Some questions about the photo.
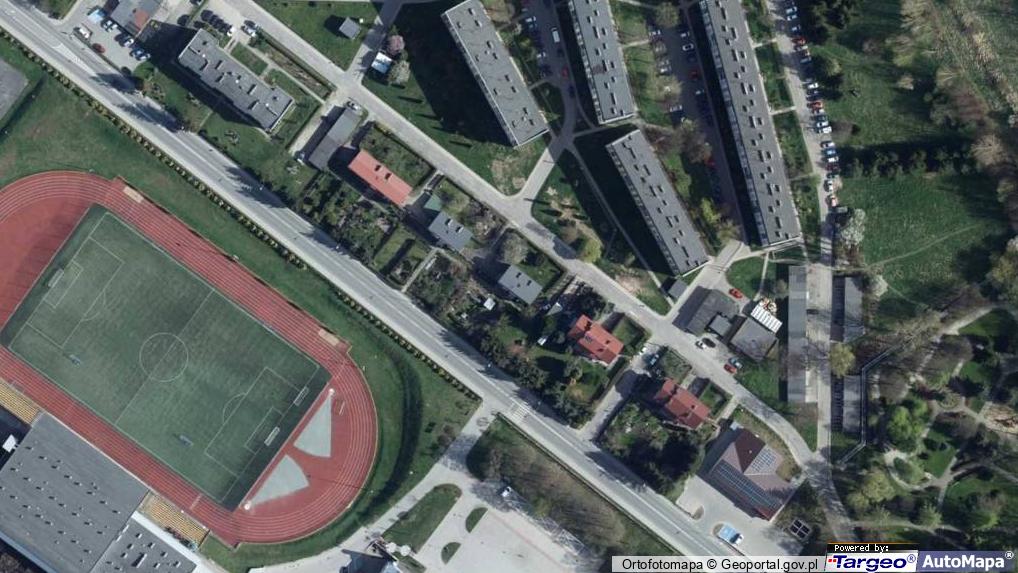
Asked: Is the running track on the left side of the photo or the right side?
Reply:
left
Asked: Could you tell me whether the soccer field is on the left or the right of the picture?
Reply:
left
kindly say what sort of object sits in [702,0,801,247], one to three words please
building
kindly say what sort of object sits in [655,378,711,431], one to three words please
house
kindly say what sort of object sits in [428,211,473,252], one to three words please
house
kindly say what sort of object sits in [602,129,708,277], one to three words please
building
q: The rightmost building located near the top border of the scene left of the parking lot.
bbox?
[569,0,636,124]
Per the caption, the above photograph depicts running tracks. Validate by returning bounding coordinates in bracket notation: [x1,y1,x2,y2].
[0,169,379,552]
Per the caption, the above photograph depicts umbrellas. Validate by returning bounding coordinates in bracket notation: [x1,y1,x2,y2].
[386,541,396,552]
[400,545,410,555]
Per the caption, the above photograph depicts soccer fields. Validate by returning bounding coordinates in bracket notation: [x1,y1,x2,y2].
[0,201,333,513]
